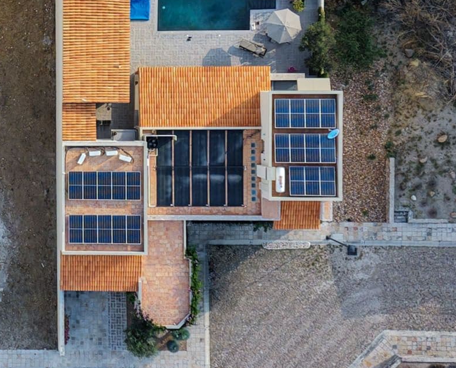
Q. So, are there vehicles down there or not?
No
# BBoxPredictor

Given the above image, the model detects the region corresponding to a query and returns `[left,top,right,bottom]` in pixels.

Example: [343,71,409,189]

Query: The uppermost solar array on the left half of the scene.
[69,172,141,199]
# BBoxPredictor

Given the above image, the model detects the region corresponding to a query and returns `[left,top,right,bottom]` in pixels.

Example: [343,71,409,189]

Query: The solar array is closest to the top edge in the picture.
[274,99,335,128]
